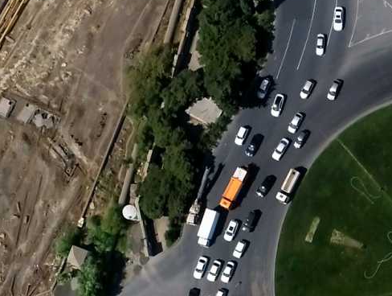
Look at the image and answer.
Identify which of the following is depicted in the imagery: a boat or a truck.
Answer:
truck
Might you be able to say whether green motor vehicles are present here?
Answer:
No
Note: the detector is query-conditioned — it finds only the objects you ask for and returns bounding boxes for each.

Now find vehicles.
[273,137,290,162]
[185,164,214,228]
[300,79,314,99]
[242,210,260,232]
[257,173,278,197]
[272,93,286,117]
[225,219,239,242]
[333,7,345,31]
[208,259,222,282]
[327,79,341,101]
[294,129,310,150]
[234,239,247,259]
[288,111,305,134]
[218,165,251,210]
[194,256,208,278]
[246,132,265,158]
[234,125,250,146]
[221,261,235,284]
[197,206,222,249]
[274,166,303,205]
[315,34,326,57]
[215,289,227,296]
